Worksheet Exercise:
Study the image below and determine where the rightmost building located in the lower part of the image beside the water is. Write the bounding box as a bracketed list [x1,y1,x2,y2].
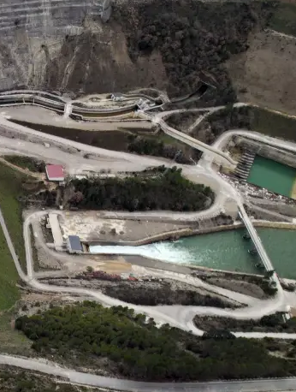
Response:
[64,232,91,258]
